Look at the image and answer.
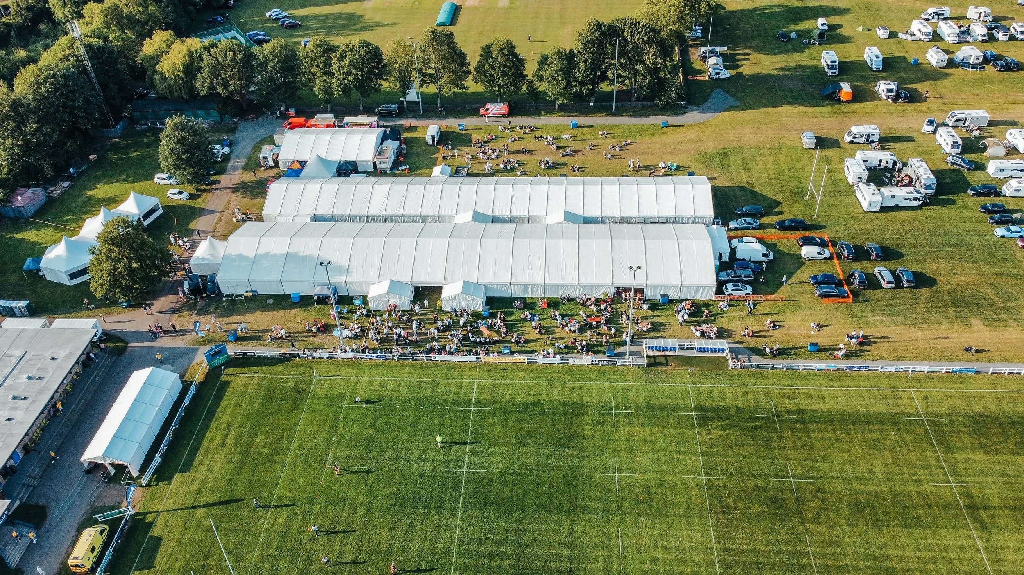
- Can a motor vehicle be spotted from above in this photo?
Yes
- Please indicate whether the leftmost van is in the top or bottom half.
bottom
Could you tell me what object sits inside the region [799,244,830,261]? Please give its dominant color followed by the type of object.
white vehicle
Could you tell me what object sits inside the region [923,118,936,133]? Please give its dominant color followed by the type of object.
white vehicle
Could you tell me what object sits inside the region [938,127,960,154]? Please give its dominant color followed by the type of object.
white camper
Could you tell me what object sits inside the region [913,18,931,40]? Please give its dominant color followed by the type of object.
white camper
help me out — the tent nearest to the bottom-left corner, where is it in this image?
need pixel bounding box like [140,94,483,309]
[80,365,189,477]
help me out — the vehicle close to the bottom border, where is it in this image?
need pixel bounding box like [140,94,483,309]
[64,527,110,575]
